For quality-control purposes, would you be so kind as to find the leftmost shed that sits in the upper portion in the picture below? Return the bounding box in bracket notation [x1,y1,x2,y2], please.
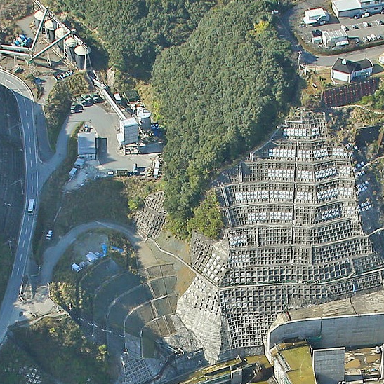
[77,132,96,163]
